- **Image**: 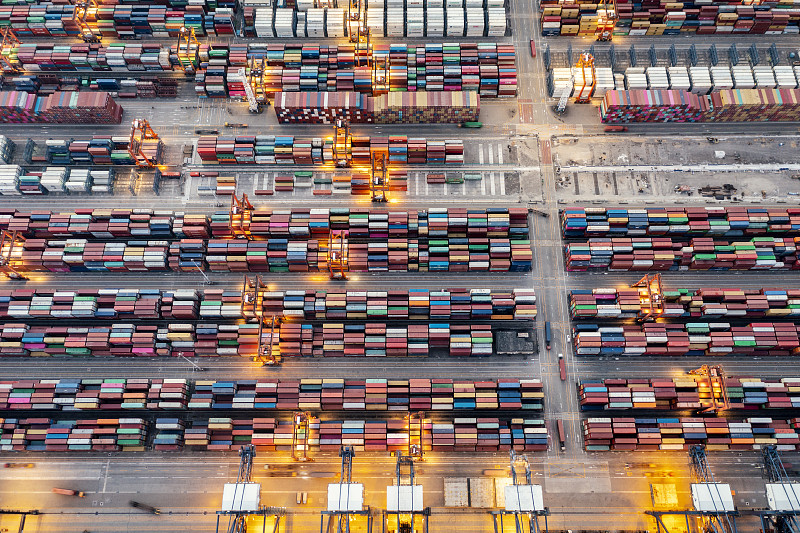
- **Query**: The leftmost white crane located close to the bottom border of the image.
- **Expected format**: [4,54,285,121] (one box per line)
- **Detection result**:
[216,449,290,533]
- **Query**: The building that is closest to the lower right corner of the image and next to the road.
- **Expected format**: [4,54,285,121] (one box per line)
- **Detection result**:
[493,334,532,358]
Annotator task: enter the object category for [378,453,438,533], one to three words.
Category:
container crane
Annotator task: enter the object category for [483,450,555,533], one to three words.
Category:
container crane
